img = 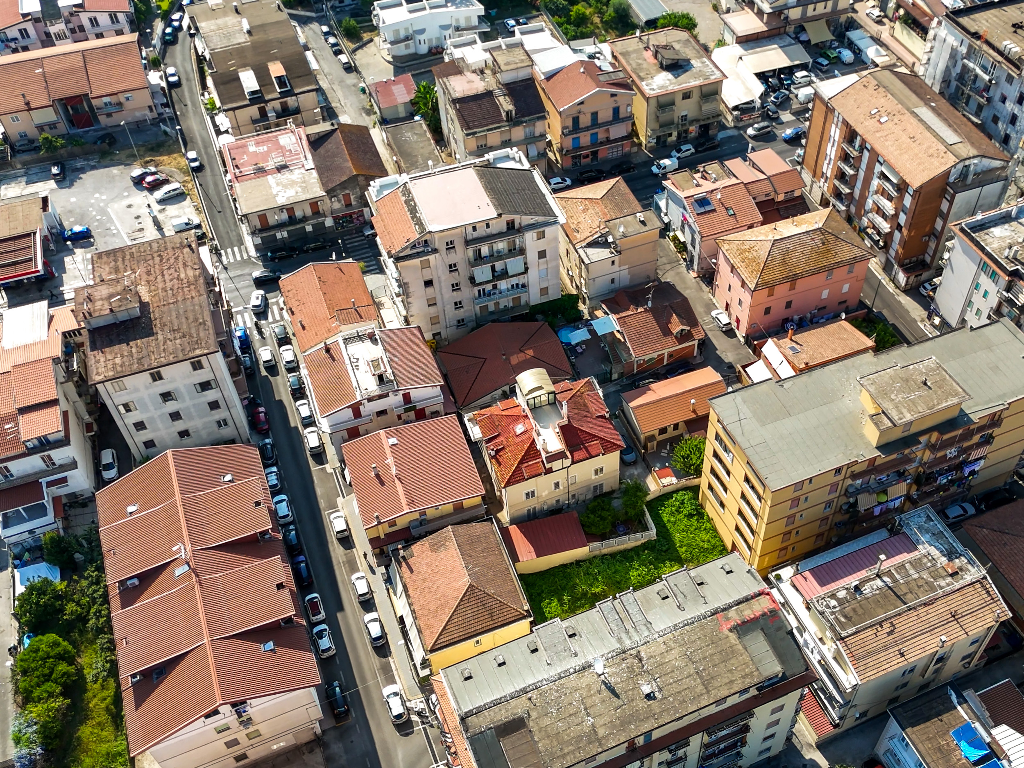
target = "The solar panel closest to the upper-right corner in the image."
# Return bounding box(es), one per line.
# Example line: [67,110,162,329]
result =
[695,191,713,210]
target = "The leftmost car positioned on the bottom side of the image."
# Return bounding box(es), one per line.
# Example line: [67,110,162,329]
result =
[99,448,120,480]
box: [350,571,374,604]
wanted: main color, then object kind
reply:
white car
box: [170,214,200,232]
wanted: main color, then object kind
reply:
white vehicle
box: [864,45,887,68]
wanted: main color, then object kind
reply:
white gazebo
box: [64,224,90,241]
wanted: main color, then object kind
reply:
blue car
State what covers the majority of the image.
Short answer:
buildings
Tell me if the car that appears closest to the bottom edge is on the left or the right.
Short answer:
right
